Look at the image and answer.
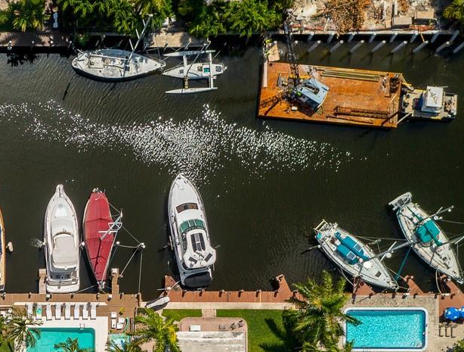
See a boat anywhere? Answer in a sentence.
Yes, the image includes a boat.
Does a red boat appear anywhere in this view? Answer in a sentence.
Yes, this view includes a red boat.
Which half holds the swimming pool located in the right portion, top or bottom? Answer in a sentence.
The swimming pool located in the right portion is in the bottom half of the image.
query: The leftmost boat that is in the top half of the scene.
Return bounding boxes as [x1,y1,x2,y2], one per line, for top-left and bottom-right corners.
[72,14,165,84]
